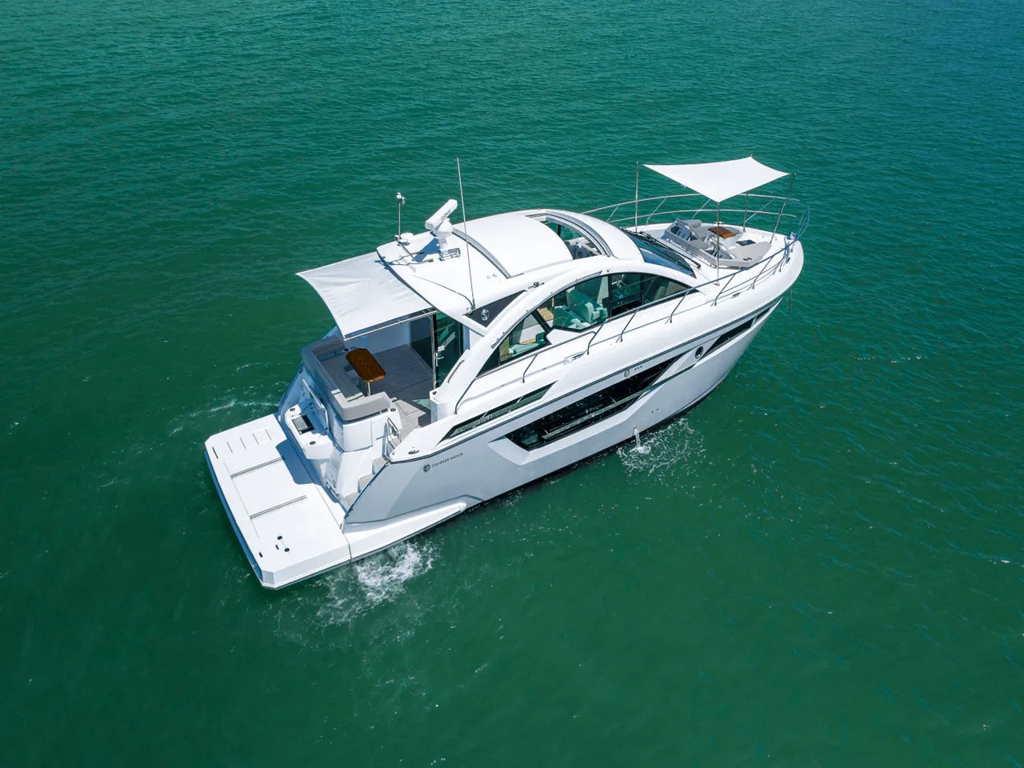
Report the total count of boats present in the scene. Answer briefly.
1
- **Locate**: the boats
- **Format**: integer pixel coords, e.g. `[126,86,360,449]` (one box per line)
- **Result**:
[205,162,807,586]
